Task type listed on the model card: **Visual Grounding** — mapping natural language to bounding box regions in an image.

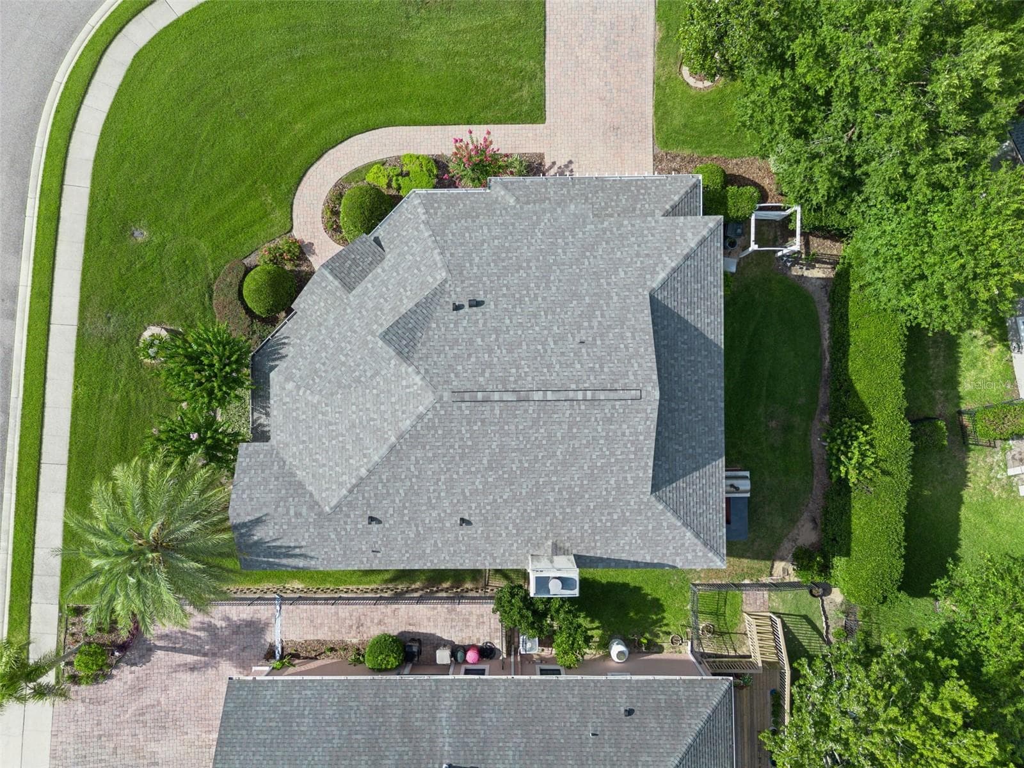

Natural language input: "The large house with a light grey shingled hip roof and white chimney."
[229,172,727,597]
